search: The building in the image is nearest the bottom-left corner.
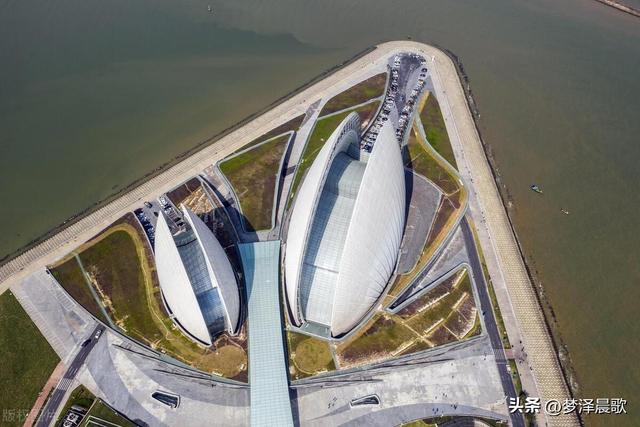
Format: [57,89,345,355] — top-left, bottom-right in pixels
[149,204,247,351]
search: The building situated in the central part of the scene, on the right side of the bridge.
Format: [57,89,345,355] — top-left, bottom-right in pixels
[281,112,408,341]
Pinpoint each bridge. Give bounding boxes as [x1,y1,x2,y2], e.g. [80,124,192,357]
[239,241,294,427]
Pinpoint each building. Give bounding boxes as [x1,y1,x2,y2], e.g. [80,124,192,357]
[281,112,408,341]
[149,204,247,351]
